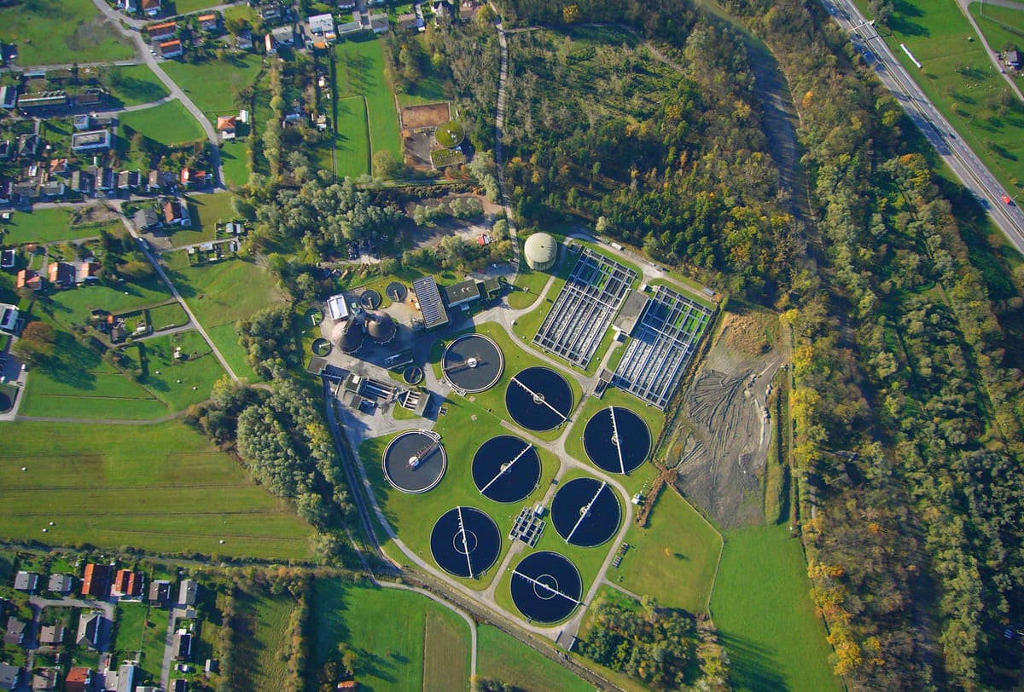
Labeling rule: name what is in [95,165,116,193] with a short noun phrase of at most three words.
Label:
house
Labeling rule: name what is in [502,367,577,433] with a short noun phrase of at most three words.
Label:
storage tank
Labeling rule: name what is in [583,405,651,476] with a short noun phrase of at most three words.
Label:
storage tank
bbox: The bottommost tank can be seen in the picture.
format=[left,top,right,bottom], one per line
[509,552,585,625]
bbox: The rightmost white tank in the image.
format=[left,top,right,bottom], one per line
[526,236,559,274]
